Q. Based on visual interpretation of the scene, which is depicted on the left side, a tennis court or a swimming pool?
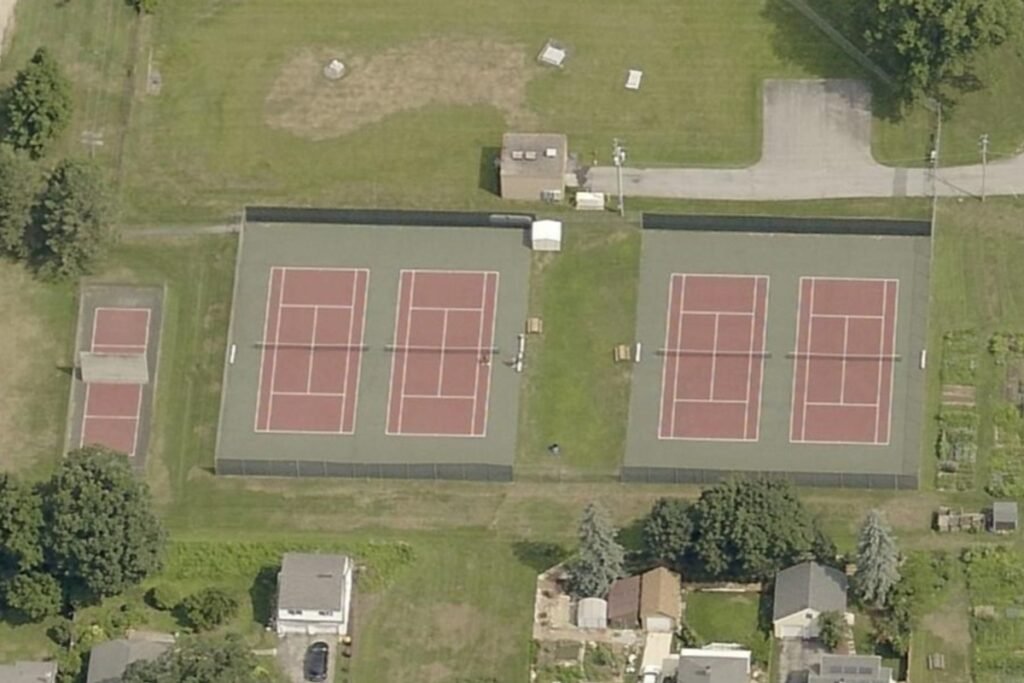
tennis court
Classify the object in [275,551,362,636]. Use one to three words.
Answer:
house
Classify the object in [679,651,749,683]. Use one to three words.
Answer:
house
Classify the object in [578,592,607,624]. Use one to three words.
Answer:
shed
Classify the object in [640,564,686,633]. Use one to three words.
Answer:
building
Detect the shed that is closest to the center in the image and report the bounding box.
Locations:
[532,218,563,251]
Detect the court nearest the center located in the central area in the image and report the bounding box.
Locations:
[386,270,499,437]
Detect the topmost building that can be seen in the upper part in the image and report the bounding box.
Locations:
[498,134,567,207]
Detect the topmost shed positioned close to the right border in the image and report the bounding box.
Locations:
[991,501,1018,532]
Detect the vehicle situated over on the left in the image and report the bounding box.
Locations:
[305,644,327,679]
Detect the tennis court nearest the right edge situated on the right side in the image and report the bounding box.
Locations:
[790,277,899,444]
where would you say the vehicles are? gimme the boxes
[642,667,663,683]
[305,644,327,679]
